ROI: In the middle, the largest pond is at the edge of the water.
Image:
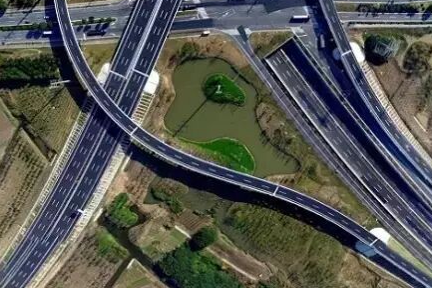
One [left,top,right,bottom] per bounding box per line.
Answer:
[166,58,299,176]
